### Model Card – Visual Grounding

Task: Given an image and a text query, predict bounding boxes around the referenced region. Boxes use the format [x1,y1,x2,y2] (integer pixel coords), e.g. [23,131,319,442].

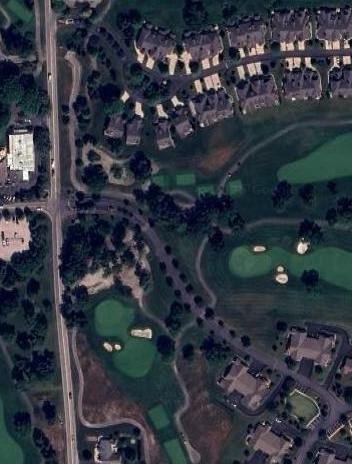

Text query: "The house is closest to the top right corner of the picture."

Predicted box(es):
[314,7,352,40]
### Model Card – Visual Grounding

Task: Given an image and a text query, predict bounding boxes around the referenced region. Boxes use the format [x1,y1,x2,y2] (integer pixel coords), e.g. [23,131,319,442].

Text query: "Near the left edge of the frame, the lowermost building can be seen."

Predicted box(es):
[6,129,34,181]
